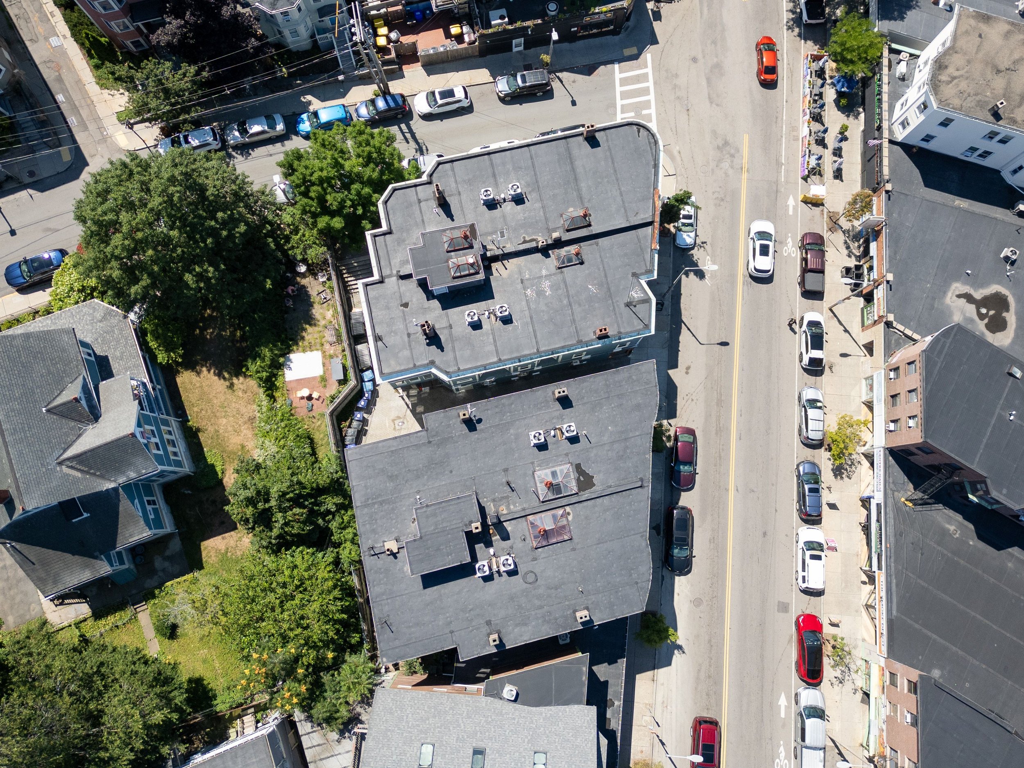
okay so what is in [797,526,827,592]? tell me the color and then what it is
white car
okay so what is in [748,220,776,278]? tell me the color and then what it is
white car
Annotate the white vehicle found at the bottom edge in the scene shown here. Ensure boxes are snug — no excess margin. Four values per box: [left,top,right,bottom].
[795,686,828,768]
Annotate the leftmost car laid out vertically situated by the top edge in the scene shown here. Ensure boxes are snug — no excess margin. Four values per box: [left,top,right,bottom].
[755,36,779,85]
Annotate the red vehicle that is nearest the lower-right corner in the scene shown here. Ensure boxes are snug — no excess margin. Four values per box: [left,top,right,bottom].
[796,613,826,684]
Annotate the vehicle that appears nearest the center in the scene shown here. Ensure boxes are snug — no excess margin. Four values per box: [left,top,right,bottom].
[671,427,699,489]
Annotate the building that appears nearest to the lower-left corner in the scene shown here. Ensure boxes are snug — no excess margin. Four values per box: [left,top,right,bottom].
[174,713,300,768]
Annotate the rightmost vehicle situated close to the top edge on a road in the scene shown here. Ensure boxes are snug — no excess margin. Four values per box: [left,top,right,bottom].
[801,0,825,25]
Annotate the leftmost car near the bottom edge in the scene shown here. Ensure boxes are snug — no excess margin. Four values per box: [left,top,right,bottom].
[693,716,720,768]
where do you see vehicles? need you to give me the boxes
[534,122,585,138]
[796,461,825,519]
[798,387,827,444]
[414,88,470,118]
[748,220,776,278]
[354,93,410,124]
[796,613,826,684]
[495,69,551,99]
[225,117,287,150]
[158,128,221,159]
[666,505,695,573]
[296,106,352,136]
[402,146,445,174]
[675,195,699,249]
[671,427,699,489]
[693,716,720,768]
[800,312,828,368]
[755,36,779,85]
[801,0,825,25]
[800,232,828,293]
[797,526,827,592]
[3,249,69,286]
[795,686,828,768]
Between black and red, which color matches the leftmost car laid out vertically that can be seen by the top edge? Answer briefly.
red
